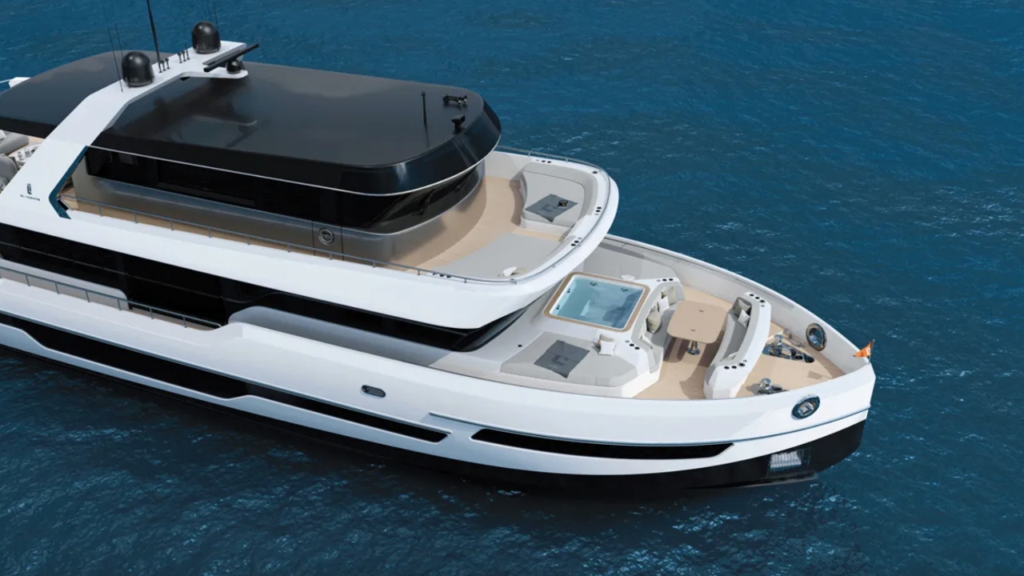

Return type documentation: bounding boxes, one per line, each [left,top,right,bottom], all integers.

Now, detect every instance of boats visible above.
[0,0,876,497]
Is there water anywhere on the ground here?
Yes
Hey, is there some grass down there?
No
